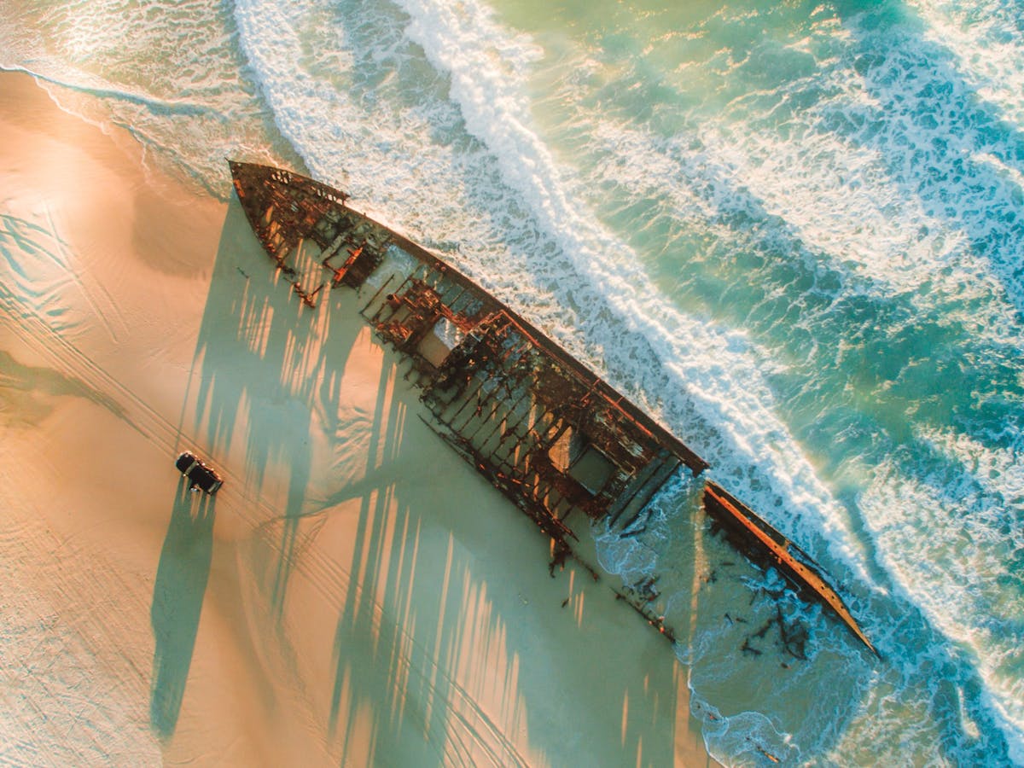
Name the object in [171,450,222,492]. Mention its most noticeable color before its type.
black car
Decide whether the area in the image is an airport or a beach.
beach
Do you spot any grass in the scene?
No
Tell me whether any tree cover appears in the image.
No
